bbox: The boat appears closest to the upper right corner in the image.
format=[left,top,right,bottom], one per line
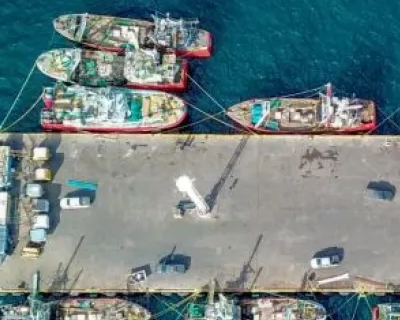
[227,83,375,134]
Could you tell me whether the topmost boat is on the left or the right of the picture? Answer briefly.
left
